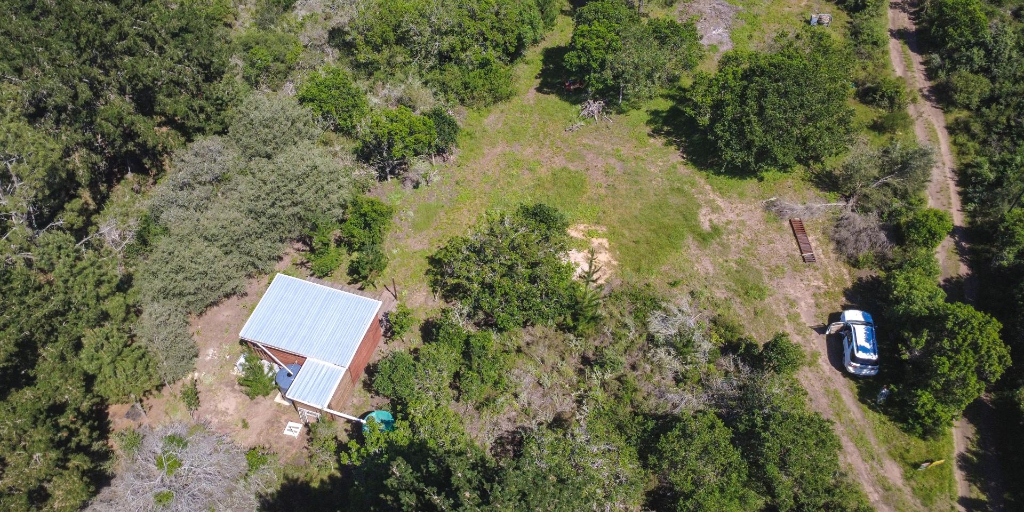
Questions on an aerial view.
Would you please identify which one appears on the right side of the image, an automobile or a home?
automobile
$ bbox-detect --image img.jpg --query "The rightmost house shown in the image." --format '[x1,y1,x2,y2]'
[239,270,381,424]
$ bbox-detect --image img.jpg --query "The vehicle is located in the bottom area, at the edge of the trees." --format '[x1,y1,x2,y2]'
[826,310,880,379]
